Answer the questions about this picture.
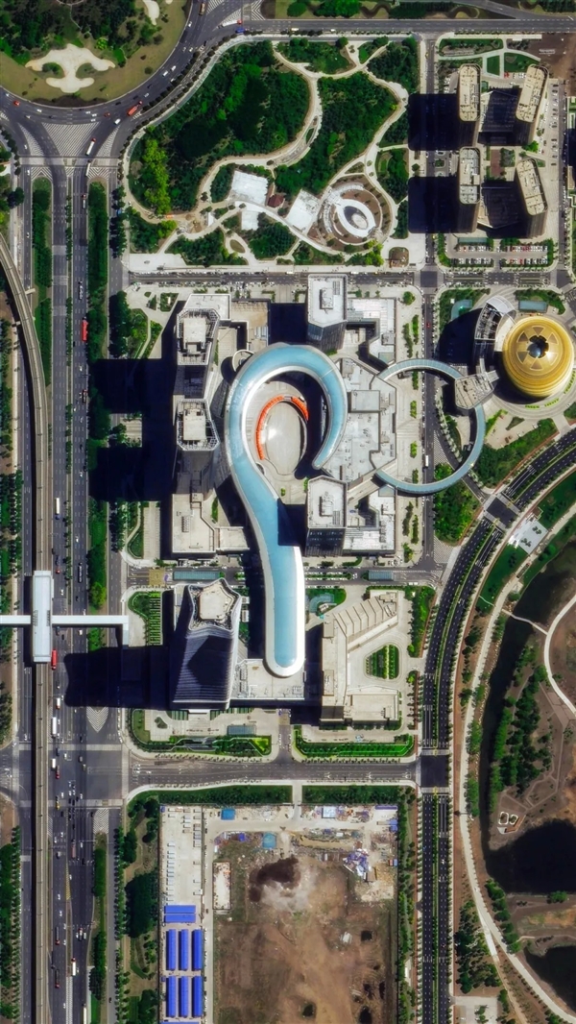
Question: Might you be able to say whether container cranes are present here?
No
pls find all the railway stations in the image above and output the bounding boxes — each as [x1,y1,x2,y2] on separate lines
[33,571,53,666]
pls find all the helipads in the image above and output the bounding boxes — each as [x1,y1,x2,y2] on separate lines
[199,584,234,623]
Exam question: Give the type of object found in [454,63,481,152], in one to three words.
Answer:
building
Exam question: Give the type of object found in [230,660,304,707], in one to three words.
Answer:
building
